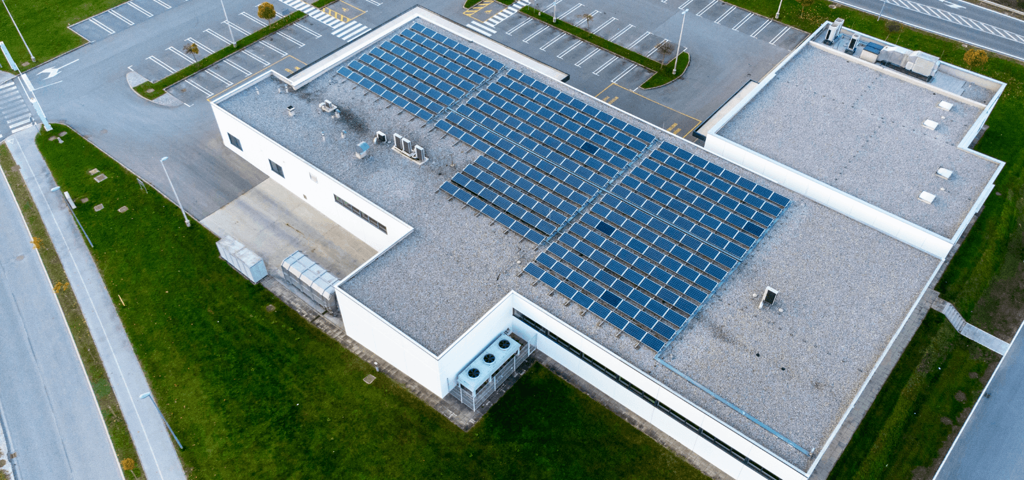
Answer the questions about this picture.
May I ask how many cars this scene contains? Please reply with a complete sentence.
No cars are visible.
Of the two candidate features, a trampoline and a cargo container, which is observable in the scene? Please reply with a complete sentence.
I can see a cargo container in this picture.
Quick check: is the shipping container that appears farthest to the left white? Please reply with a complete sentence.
Yes, the shipping container that appears farthest to the left is indeed white.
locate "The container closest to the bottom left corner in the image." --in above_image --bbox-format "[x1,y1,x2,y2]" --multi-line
[213,232,269,285]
